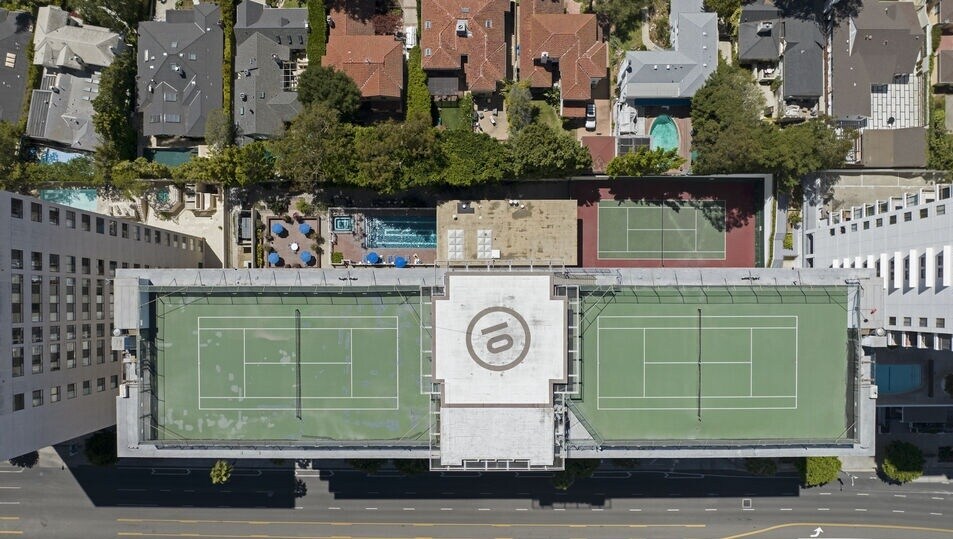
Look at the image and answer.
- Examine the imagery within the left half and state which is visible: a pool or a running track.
pool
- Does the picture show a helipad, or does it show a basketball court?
helipad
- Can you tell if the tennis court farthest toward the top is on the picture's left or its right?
right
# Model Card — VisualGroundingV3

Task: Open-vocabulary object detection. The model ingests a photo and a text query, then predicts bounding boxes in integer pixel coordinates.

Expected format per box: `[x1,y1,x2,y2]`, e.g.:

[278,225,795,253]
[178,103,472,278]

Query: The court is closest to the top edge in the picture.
[577,183,756,267]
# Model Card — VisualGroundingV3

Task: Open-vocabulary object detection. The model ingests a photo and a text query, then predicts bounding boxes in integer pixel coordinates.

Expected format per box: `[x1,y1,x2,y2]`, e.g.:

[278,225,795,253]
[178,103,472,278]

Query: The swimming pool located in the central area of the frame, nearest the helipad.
[364,217,436,249]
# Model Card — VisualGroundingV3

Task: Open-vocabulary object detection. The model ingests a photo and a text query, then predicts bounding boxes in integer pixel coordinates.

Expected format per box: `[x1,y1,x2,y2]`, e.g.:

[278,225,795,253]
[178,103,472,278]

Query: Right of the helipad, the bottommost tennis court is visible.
[567,286,848,441]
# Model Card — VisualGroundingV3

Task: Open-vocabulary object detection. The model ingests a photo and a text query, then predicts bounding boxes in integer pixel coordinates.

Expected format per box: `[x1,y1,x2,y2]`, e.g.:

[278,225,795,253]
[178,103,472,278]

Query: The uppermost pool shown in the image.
[649,112,681,152]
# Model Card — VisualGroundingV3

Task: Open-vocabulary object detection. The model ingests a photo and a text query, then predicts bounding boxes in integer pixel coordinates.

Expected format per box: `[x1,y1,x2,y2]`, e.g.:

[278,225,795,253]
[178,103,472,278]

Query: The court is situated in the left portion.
[148,289,433,441]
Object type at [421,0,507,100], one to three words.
house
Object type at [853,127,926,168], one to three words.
building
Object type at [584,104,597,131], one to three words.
vehicle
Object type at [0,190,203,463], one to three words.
building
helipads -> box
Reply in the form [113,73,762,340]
[432,273,568,408]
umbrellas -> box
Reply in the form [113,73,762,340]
[268,252,280,264]
[367,251,380,264]
[301,250,312,263]
[273,223,284,235]
[394,256,407,267]
[300,223,311,235]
